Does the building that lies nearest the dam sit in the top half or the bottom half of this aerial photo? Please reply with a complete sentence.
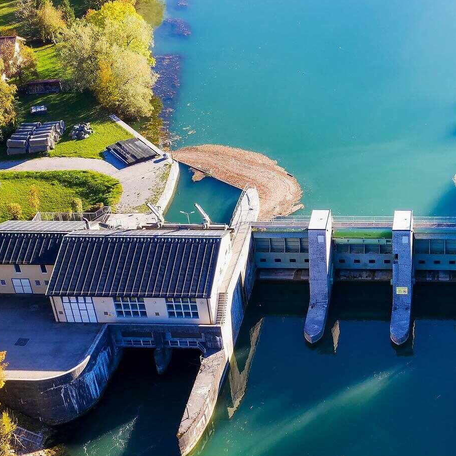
Seen from above, the building that lies nearest the dam lies in the bottom half of the view.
